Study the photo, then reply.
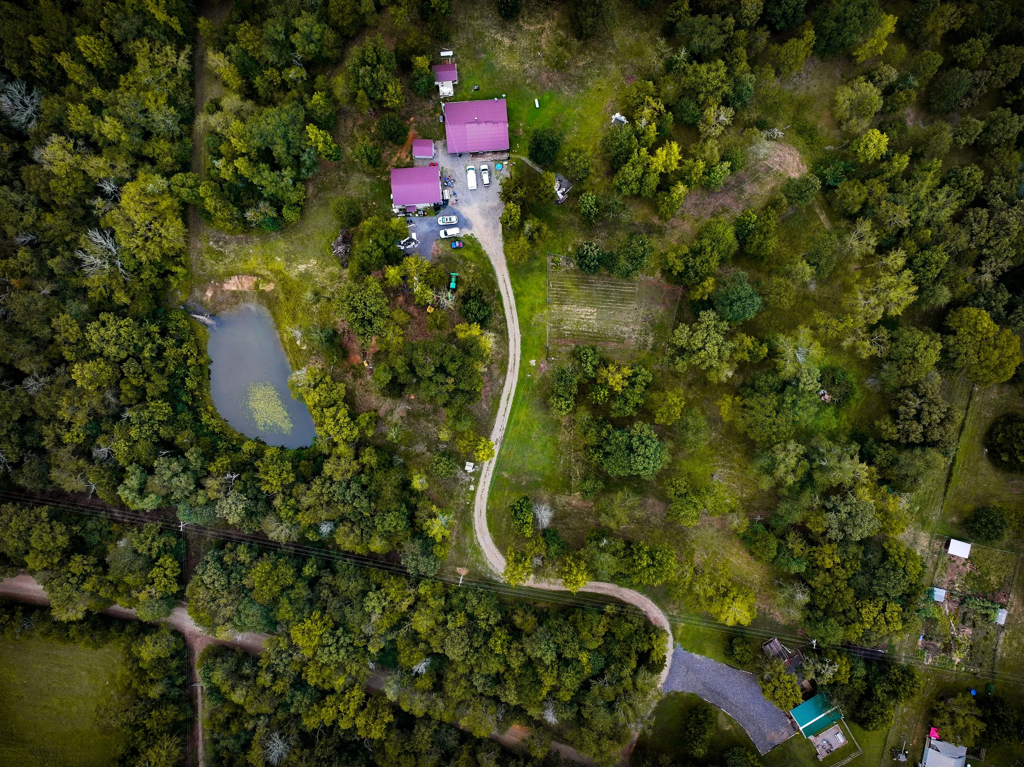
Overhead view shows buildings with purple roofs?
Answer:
Yes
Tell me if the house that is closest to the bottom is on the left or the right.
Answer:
right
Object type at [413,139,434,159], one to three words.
shed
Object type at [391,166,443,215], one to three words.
house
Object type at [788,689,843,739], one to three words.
house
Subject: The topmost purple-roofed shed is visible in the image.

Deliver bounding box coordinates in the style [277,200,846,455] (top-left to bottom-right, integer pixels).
[433,64,459,90]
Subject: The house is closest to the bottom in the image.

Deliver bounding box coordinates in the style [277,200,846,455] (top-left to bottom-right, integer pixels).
[915,736,967,767]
